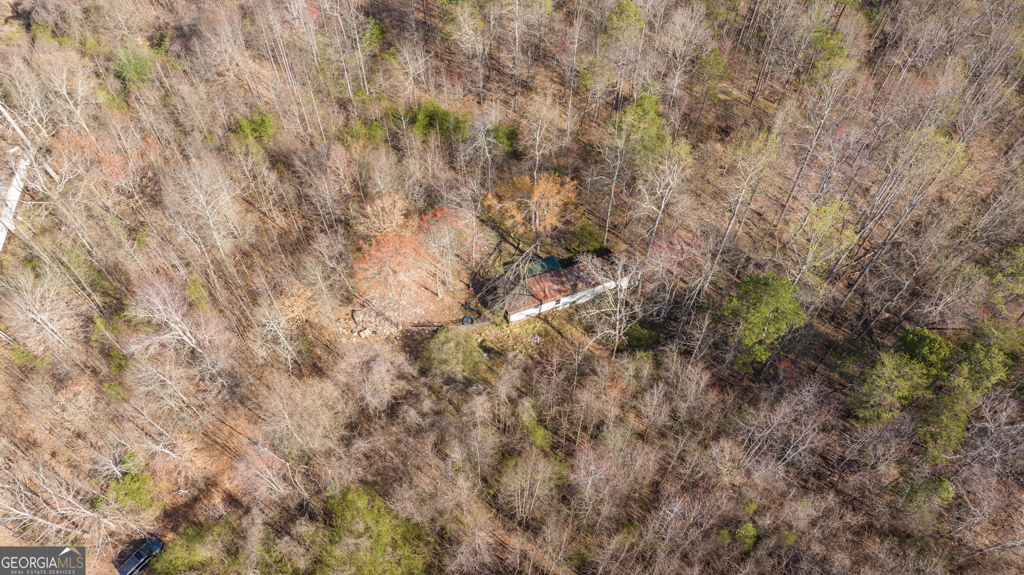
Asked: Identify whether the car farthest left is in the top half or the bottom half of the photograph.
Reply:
bottom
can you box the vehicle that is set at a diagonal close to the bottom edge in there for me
[121,539,162,575]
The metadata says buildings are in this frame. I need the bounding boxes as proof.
[498,248,633,322]
[0,146,33,246]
